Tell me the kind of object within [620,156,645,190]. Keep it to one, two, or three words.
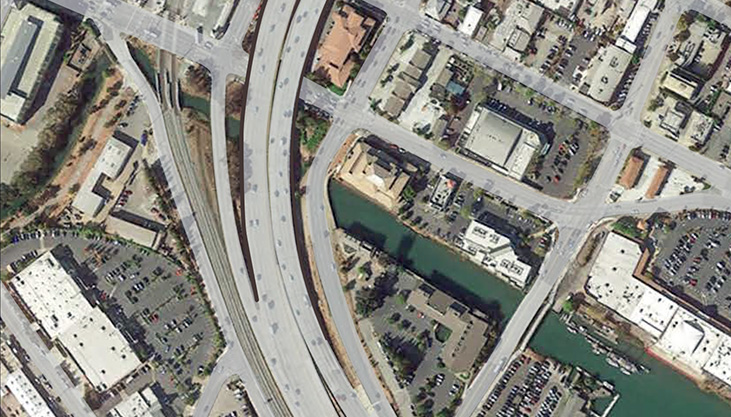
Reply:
house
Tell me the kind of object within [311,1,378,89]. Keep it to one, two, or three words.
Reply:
building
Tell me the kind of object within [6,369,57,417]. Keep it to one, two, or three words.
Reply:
shed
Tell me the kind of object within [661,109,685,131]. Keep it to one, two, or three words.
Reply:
building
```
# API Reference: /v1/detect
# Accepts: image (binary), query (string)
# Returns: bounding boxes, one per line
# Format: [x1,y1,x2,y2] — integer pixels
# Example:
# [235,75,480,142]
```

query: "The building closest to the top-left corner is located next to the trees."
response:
[0,1,63,127]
